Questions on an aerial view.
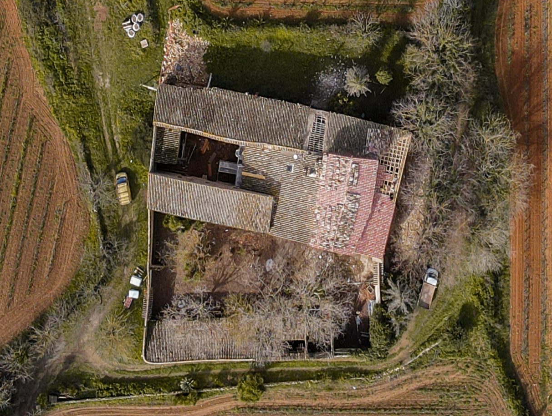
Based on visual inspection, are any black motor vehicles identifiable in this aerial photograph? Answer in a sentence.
No, there isn't any black motor vehicle down there.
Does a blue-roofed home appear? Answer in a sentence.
No, the scene contains no blue-roofed home.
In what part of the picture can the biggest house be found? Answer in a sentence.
The biggest house is in the center part of the image.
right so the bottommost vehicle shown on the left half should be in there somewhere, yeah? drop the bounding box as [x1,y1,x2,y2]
[123,288,140,308]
